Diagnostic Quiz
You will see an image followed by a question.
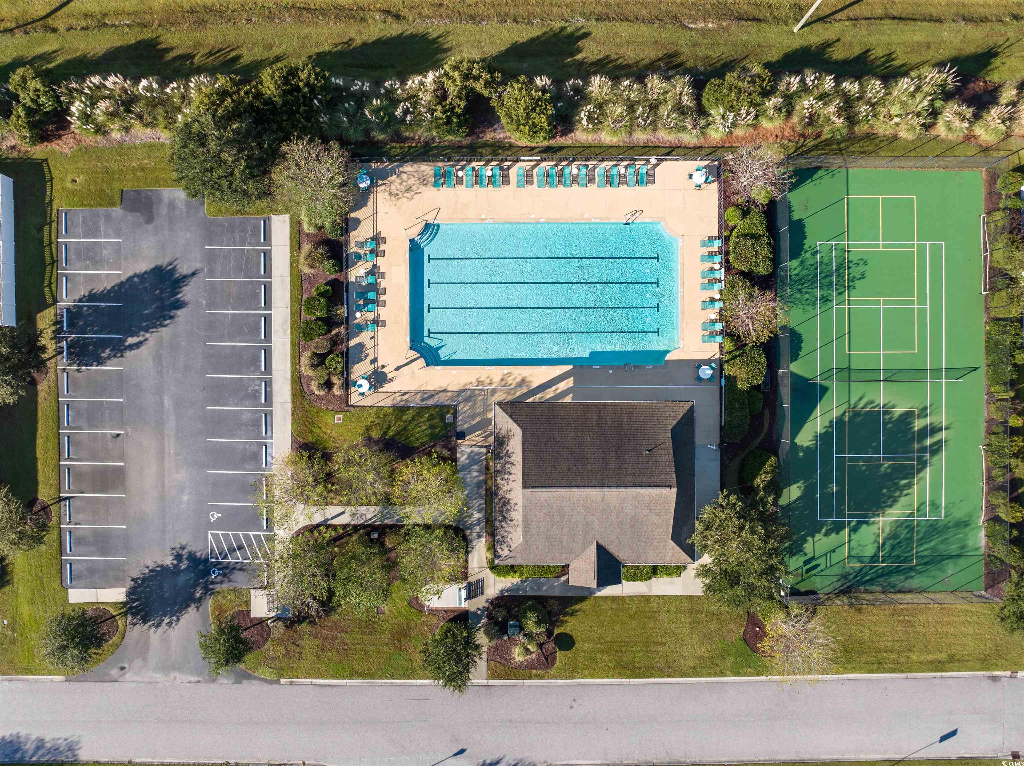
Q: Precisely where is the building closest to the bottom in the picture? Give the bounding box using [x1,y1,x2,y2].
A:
[494,401,696,590]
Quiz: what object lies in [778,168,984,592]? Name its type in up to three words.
tennis court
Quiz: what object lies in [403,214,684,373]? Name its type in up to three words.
swimming pool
